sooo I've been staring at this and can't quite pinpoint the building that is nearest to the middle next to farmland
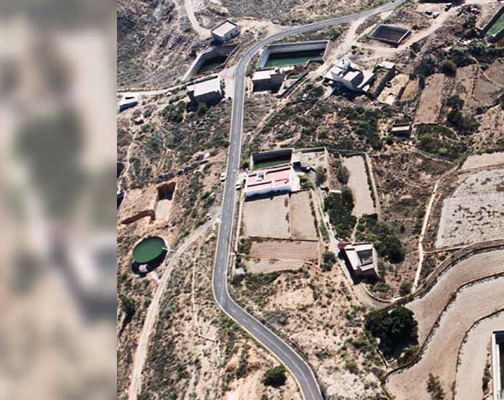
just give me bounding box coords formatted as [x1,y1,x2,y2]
[244,166,299,203]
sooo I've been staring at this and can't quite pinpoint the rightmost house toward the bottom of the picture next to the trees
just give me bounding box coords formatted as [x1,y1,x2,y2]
[344,243,376,280]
